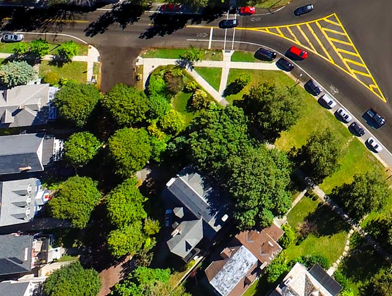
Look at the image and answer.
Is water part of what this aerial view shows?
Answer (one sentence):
No, water can't be seen anywhere here.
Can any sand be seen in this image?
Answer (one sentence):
No, the picture contains no sand.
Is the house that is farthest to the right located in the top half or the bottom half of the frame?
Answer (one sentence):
Seen from above, the house that is farthest to the right lies in the bottom half of the view.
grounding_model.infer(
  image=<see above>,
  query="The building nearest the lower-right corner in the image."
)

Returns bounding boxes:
[275,261,342,296]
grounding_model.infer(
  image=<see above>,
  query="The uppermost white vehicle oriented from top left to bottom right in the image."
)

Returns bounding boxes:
[320,93,336,107]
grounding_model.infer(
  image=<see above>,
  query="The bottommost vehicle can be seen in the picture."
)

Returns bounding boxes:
[367,137,383,152]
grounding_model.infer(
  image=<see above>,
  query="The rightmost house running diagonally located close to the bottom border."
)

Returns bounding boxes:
[200,218,286,296]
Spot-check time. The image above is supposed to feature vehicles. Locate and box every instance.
[257,48,276,60]
[276,58,293,70]
[367,137,383,152]
[239,6,256,14]
[320,93,336,107]
[221,20,237,27]
[5,33,22,41]
[305,80,320,94]
[364,109,383,126]
[296,4,313,14]
[349,122,365,136]
[288,45,309,59]
[336,107,352,121]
